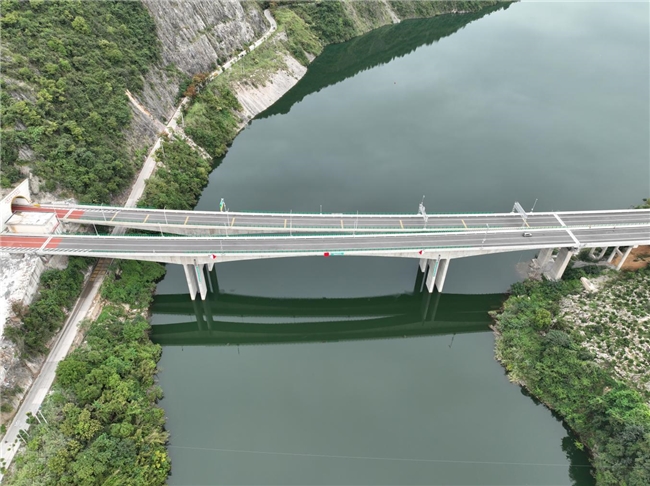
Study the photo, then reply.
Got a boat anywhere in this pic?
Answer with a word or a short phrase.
No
